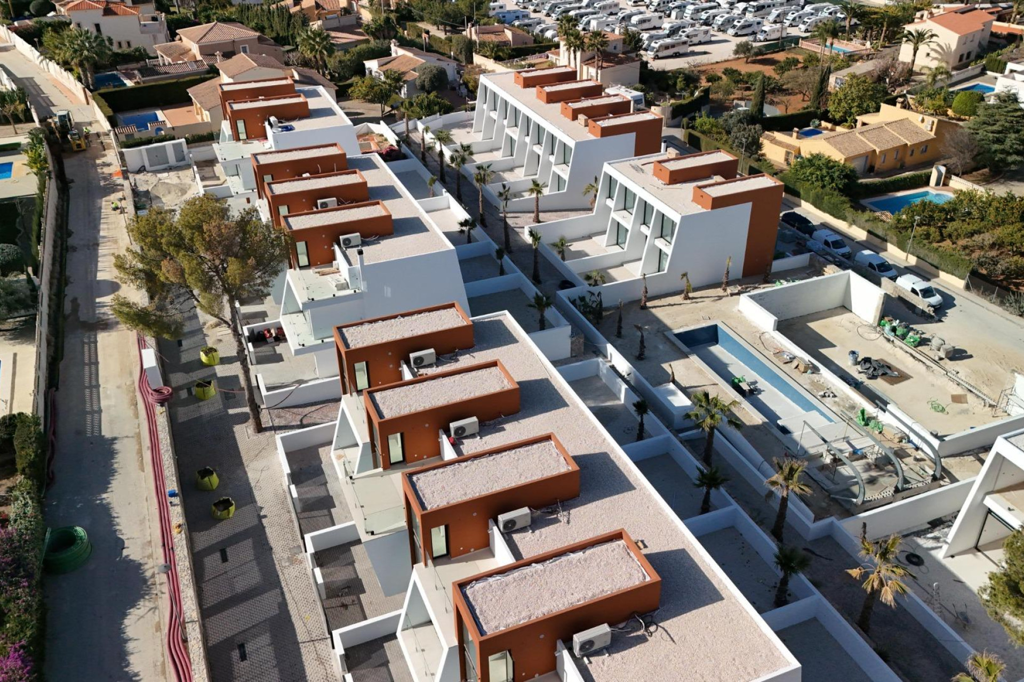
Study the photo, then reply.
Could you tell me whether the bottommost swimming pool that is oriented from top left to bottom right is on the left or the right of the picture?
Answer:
right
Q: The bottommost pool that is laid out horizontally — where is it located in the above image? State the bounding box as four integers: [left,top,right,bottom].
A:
[858,189,957,216]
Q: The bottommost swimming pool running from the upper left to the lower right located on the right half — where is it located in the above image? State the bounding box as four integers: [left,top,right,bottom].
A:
[662,318,851,455]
